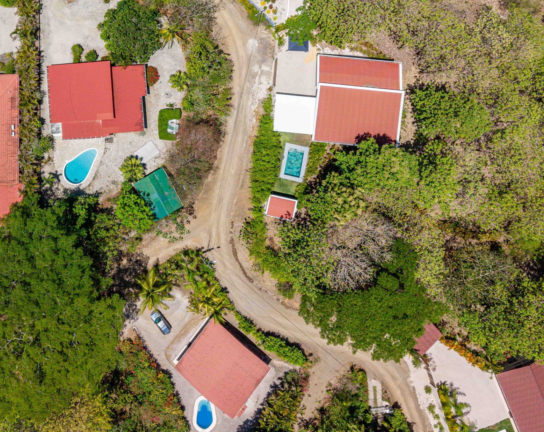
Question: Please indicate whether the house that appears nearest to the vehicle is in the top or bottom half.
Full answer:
The house that appears nearest to the vehicle is in the bottom half of the image.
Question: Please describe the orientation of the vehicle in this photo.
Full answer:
What the image shows is the vehicle lying on a diagonal.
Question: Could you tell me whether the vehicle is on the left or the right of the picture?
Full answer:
You can find the vehicle on the left side of the picture.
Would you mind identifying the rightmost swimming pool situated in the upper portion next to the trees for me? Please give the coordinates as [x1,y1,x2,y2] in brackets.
[279,143,309,182]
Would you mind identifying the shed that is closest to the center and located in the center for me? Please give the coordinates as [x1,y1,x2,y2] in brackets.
[265,194,298,221]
